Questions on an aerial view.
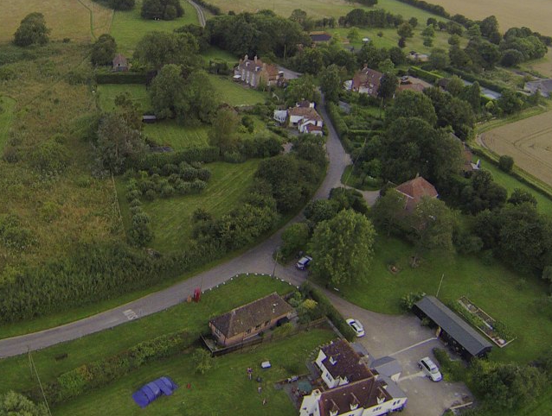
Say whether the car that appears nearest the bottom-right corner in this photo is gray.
Yes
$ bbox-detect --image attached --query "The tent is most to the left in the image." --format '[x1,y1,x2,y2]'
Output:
[127,378,179,410]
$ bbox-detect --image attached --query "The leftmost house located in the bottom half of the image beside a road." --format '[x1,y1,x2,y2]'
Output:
[202,290,294,350]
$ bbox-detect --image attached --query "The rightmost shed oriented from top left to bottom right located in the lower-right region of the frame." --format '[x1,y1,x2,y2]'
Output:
[412,294,495,366]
